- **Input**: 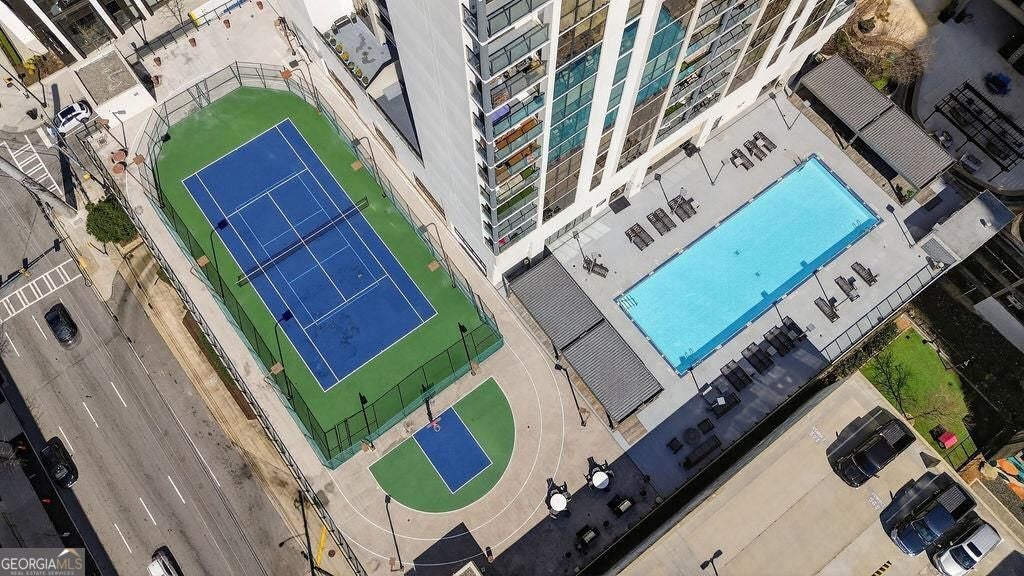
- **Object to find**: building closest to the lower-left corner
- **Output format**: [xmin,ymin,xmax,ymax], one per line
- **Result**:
[0,380,103,576]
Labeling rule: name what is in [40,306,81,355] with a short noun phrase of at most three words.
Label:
car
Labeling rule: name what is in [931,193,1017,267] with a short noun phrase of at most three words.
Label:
building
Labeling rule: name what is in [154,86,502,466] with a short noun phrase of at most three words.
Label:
tennis court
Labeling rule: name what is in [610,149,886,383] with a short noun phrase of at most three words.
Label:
swimming pool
